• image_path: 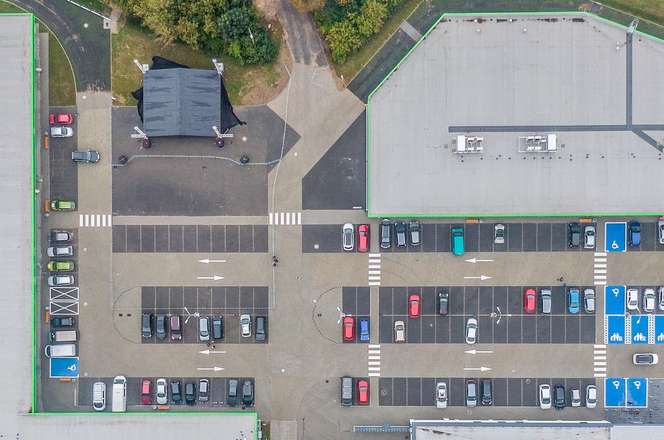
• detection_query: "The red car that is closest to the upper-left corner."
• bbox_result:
[50,113,74,125]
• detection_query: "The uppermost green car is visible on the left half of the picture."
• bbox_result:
[52,199,76,212]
